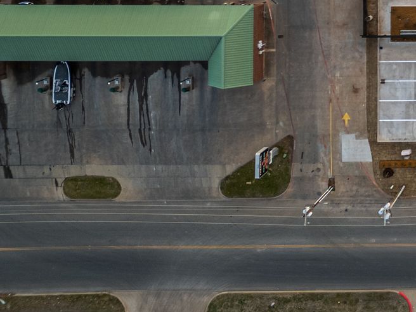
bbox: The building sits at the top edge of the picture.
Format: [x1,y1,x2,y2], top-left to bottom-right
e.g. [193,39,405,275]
[0,5,265,88]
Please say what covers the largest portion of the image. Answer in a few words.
paved ground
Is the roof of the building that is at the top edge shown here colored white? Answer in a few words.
No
